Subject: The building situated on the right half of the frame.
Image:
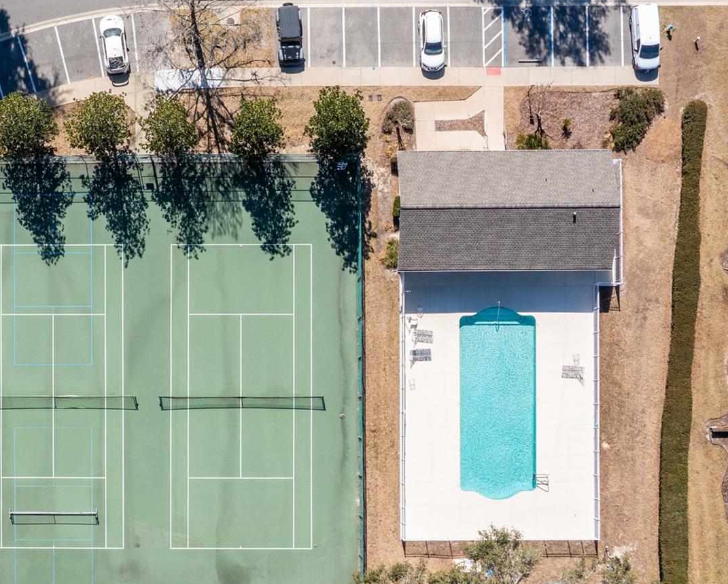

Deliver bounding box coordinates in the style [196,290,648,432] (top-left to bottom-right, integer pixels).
[398,150,620,272]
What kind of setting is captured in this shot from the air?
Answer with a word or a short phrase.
sports ground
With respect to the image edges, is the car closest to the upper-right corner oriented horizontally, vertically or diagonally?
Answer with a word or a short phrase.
vertically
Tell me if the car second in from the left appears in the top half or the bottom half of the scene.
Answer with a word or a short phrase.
top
